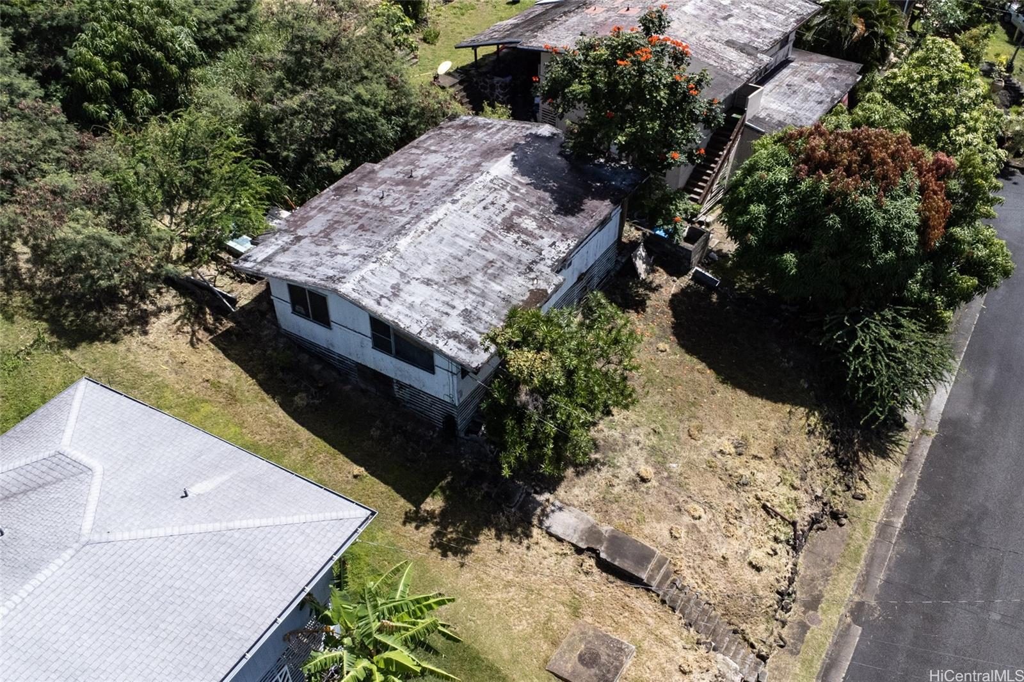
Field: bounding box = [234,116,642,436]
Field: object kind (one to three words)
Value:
house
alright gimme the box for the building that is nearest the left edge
[0,373,379,682]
